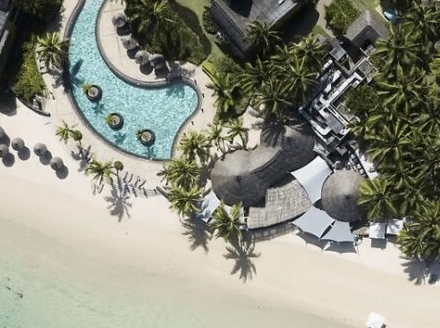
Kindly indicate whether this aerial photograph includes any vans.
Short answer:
No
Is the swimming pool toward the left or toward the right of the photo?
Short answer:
left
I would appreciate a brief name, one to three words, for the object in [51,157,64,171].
umbrella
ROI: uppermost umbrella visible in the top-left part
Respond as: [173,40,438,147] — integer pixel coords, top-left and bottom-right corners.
[113,15,126,28]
